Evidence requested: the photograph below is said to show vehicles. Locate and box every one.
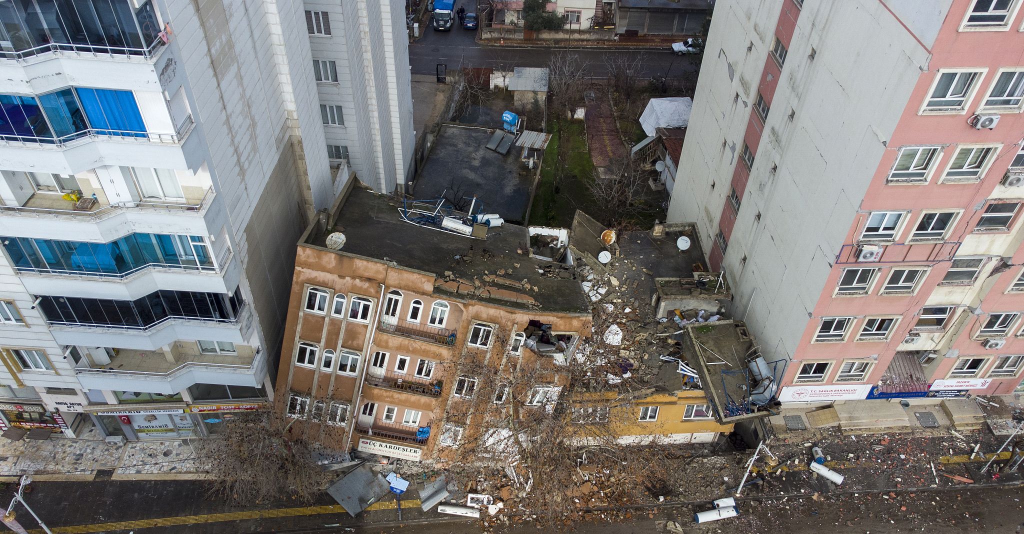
[431,0,454,28]
[670,36,704,54]
[461,7,480,27]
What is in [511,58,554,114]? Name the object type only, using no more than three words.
shed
